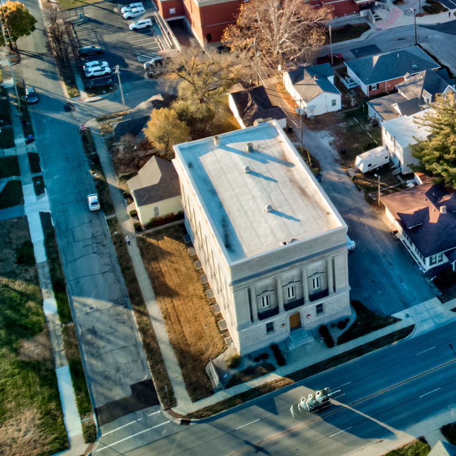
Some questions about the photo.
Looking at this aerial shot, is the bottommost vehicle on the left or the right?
right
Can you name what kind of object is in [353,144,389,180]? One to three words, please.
trailer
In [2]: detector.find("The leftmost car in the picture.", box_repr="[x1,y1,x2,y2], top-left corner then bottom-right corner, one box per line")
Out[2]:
[25,86,38,102]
